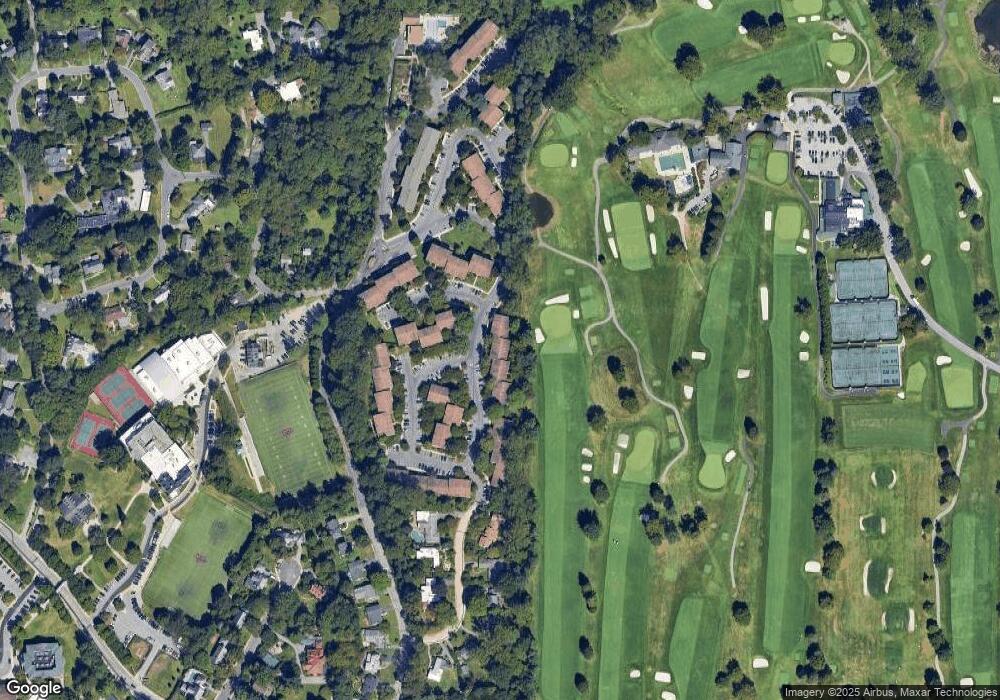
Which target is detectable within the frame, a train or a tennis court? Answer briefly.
tennis court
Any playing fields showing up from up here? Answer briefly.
Yes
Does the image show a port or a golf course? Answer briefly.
golf course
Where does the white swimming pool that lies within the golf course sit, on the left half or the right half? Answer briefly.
right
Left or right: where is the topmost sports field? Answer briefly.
left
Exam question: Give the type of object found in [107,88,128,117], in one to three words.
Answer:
house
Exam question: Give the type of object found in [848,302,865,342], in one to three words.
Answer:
tennis court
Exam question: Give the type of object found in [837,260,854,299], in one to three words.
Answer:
tennis court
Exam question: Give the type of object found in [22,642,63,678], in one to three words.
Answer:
building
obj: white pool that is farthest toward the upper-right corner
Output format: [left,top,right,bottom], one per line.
[655,146,694,176]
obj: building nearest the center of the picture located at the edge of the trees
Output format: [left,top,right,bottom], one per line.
[489,313,511,404]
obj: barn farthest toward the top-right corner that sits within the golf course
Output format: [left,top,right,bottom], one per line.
[833,92,862,112]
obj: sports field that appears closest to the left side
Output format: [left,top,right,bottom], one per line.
[146,492,252,622]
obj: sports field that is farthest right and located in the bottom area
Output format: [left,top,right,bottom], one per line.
[240,363,335,492]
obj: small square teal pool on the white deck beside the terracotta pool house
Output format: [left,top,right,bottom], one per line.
[423,15,458,42]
